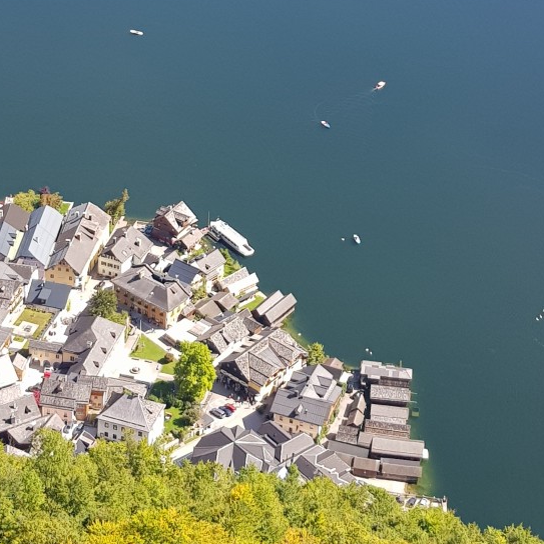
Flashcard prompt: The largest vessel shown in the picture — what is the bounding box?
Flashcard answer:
[208,214,253,257]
